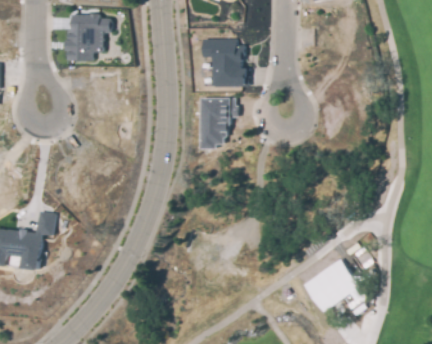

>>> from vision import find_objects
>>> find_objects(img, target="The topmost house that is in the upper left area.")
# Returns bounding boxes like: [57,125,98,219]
[63,14,110,60]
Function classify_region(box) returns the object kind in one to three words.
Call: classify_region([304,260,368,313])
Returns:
building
